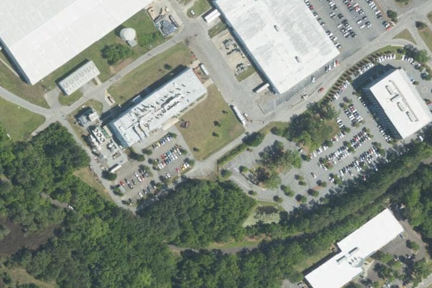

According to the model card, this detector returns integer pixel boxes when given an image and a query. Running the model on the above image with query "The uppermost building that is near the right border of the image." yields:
[368,68,432,139]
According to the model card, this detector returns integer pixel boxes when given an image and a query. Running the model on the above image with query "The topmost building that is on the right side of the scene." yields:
[213,0,339,93]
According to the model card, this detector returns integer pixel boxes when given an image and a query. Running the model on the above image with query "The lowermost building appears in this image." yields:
[306,208,403,288]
